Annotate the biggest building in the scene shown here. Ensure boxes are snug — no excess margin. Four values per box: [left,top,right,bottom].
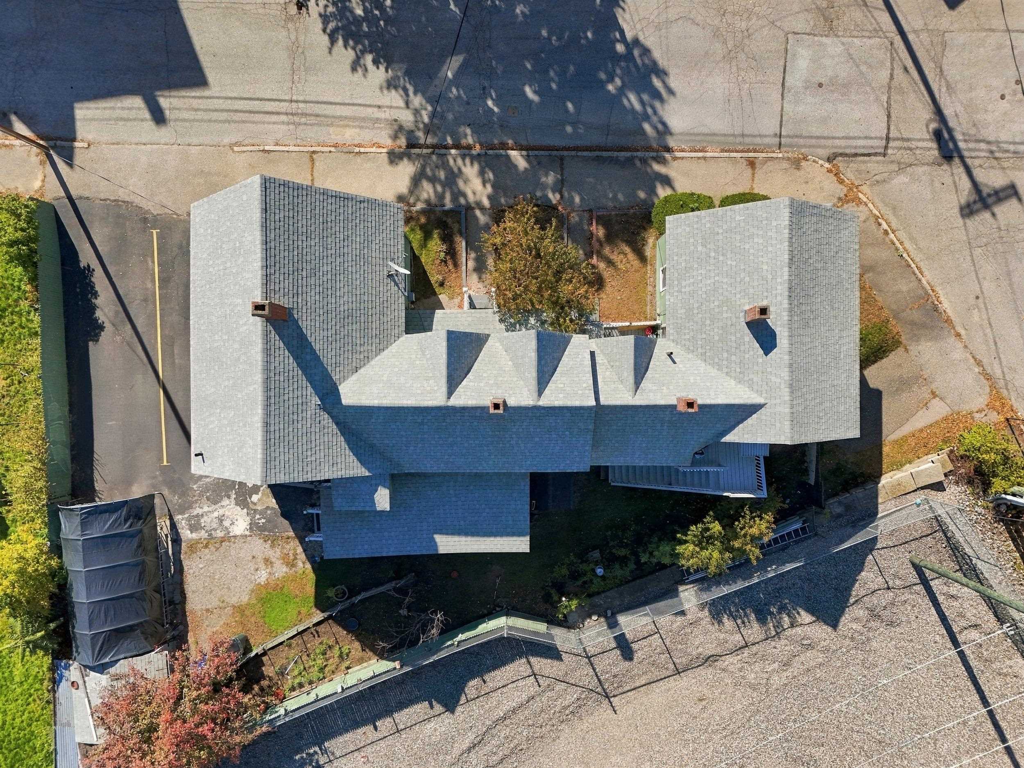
[190,175,859,556]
